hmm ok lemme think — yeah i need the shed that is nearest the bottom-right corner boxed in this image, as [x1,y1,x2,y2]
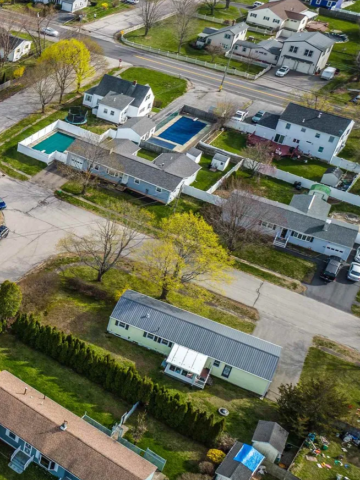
[251,421,288,465]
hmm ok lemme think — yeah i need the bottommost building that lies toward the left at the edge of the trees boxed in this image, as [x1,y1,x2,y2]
[0,370,159,480]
